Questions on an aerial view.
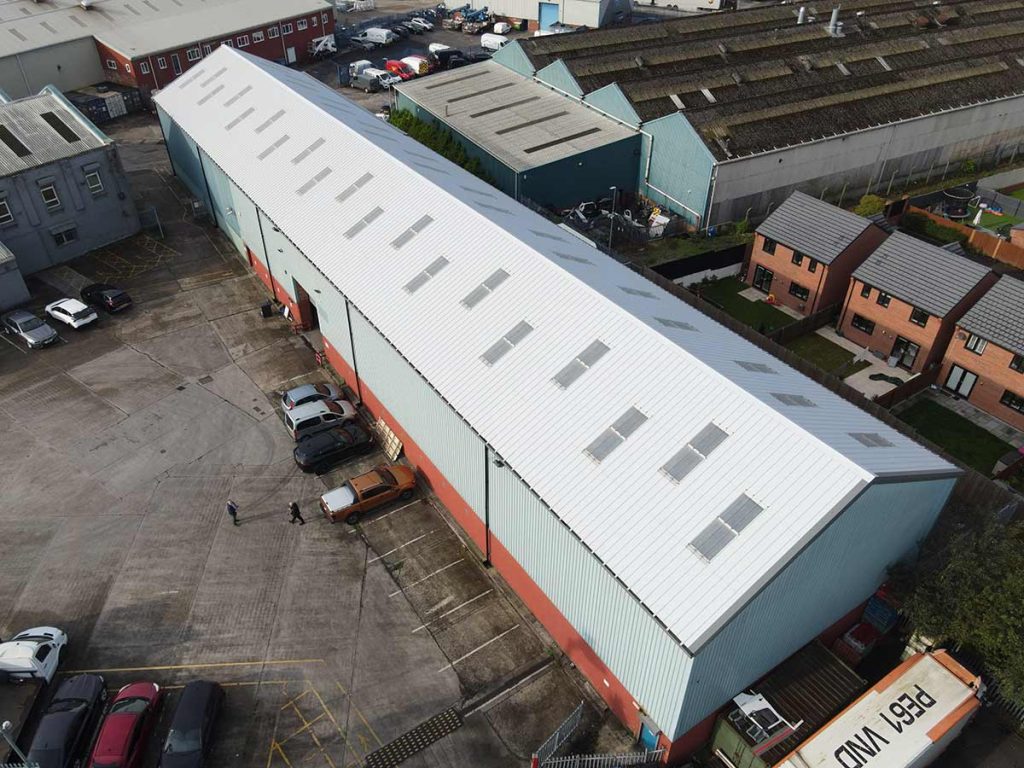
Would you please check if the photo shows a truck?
Yes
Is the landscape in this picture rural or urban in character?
urban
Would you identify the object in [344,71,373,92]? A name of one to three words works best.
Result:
vehicle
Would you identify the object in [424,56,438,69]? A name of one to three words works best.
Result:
vehicle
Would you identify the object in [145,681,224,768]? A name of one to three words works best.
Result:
car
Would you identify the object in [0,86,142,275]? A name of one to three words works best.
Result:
building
